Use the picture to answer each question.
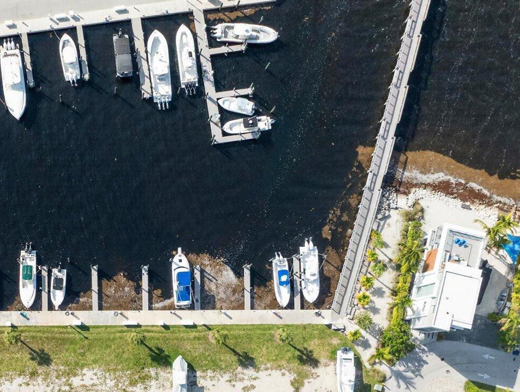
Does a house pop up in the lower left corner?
No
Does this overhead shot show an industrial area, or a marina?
marina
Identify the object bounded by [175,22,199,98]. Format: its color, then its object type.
white boat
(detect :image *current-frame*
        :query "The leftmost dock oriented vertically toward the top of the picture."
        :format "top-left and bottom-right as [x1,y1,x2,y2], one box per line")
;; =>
[21,31,36,87]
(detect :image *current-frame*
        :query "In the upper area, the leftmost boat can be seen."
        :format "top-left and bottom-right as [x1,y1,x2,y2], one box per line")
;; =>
[0,43,28,119]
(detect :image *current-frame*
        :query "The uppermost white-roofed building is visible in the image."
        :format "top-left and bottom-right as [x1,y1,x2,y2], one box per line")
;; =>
[405,223,486,335]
